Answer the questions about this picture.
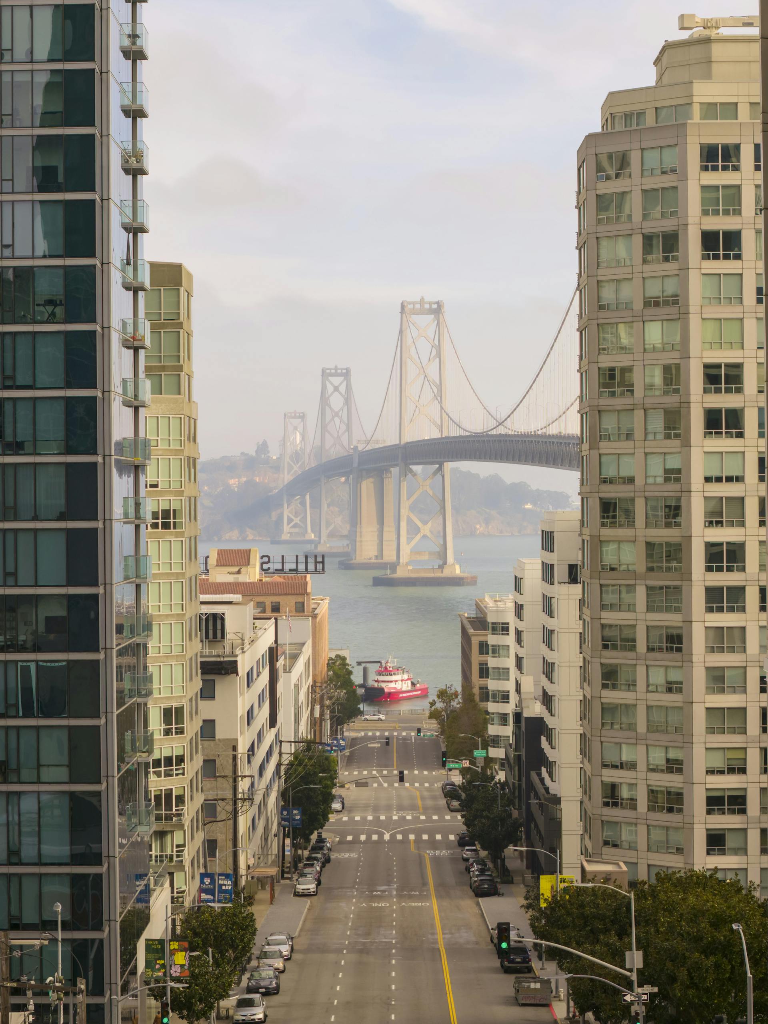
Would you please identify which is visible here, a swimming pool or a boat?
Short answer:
boat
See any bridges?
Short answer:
Yes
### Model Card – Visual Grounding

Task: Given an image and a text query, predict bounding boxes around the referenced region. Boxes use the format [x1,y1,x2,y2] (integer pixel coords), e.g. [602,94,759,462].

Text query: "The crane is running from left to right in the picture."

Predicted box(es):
[680,12,757,34]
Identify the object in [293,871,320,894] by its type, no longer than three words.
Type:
car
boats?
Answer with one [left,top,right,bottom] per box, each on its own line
[362,657,434,702]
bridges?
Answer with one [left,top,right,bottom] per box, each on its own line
[268,250,605,675]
